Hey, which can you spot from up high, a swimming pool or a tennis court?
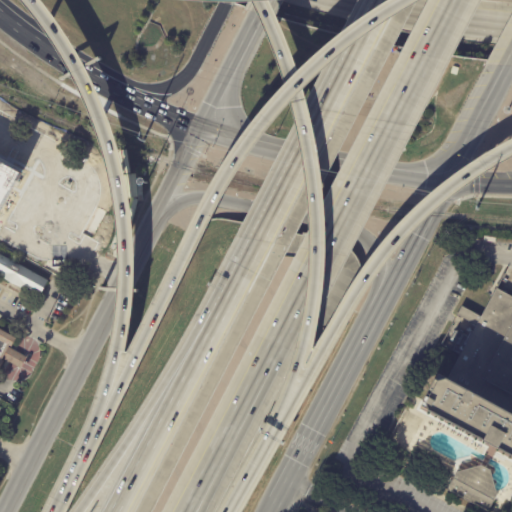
swimming pool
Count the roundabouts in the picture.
0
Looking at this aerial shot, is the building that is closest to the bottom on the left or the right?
right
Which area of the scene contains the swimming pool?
bottom right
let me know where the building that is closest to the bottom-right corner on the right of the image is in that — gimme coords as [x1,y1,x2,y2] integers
[450,464,498,506]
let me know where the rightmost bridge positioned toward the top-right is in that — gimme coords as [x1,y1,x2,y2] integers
[485,18,512,64]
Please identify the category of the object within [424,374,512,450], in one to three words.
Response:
building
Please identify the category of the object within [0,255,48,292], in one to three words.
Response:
building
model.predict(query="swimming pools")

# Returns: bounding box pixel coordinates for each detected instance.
[430,433,509,492]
